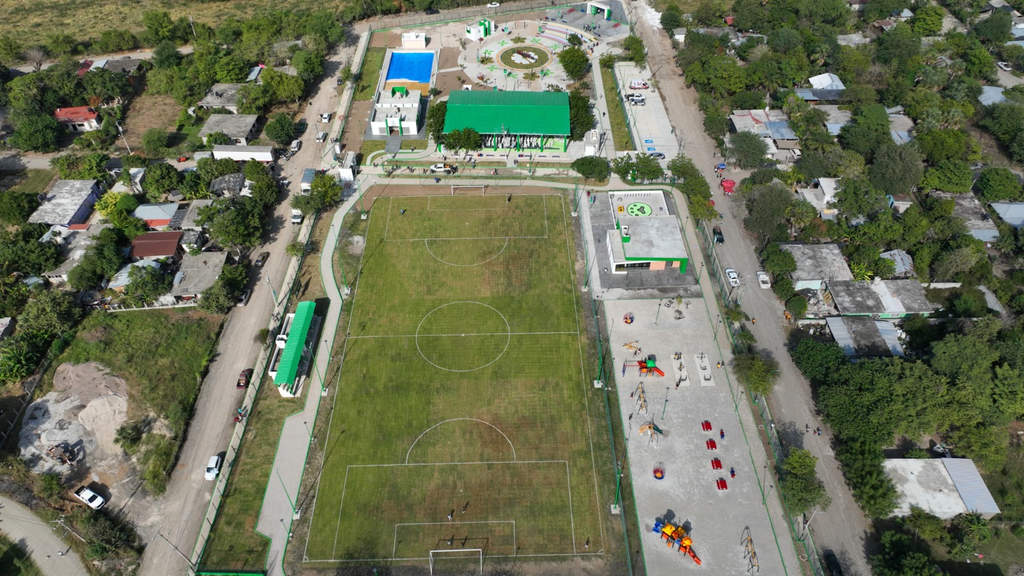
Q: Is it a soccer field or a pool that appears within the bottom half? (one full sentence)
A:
What appears within the bottom half is a soccer field.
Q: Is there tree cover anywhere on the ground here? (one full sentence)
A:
Yes, there's tree cover in this view.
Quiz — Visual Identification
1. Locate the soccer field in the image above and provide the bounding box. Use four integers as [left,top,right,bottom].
[301,192,606,566]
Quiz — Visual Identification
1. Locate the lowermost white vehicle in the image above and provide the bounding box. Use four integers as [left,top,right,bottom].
[70,482,103,508]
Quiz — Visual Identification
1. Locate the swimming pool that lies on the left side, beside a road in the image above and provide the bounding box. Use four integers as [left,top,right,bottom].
[372,46,440,98]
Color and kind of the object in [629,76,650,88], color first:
white vehicle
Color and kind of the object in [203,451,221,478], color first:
white car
